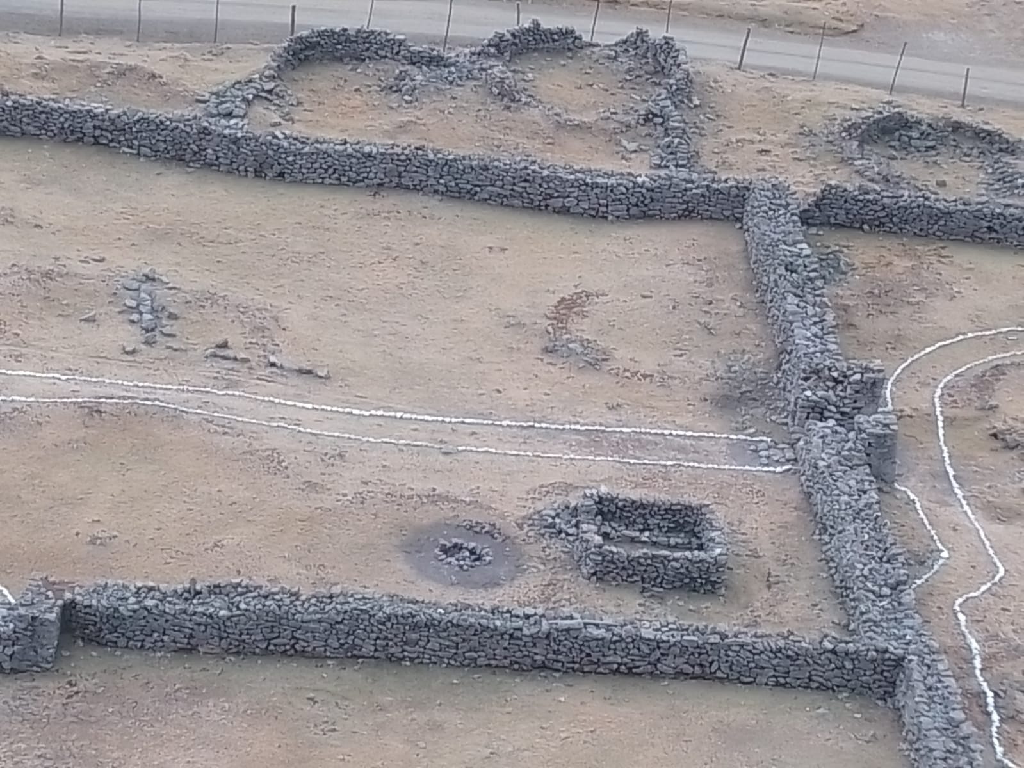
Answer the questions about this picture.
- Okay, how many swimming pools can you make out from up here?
0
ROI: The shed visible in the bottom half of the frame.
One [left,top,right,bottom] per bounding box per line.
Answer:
[580,491,736,597]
